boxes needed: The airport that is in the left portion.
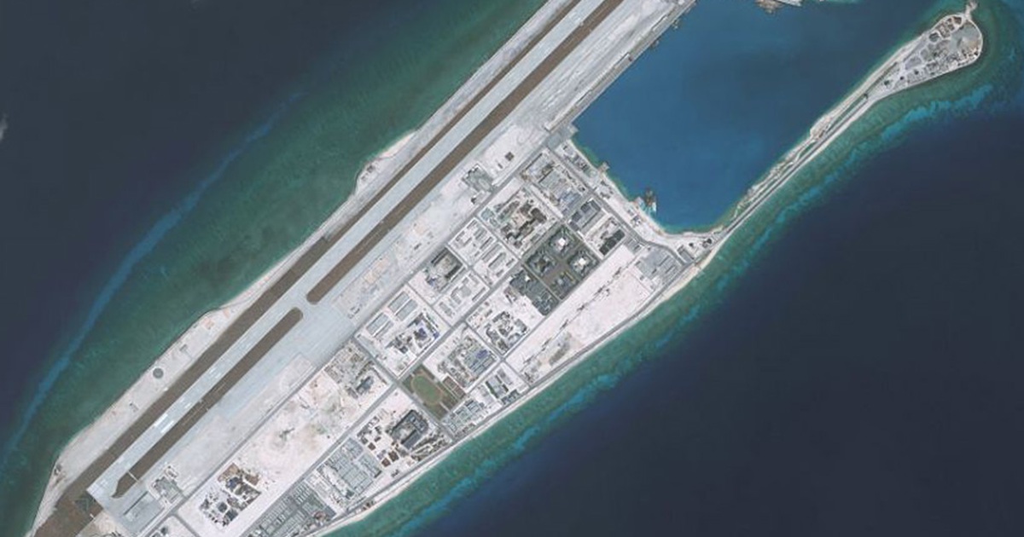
[34,0,635,537]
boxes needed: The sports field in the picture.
[403,365,464,419]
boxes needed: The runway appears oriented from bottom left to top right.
[87,0,603,505]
